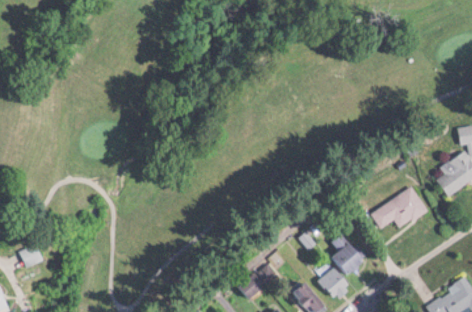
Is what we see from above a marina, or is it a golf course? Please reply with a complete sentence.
This image shows a golf course.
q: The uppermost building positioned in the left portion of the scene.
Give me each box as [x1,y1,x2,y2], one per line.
[18,246,43,269]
